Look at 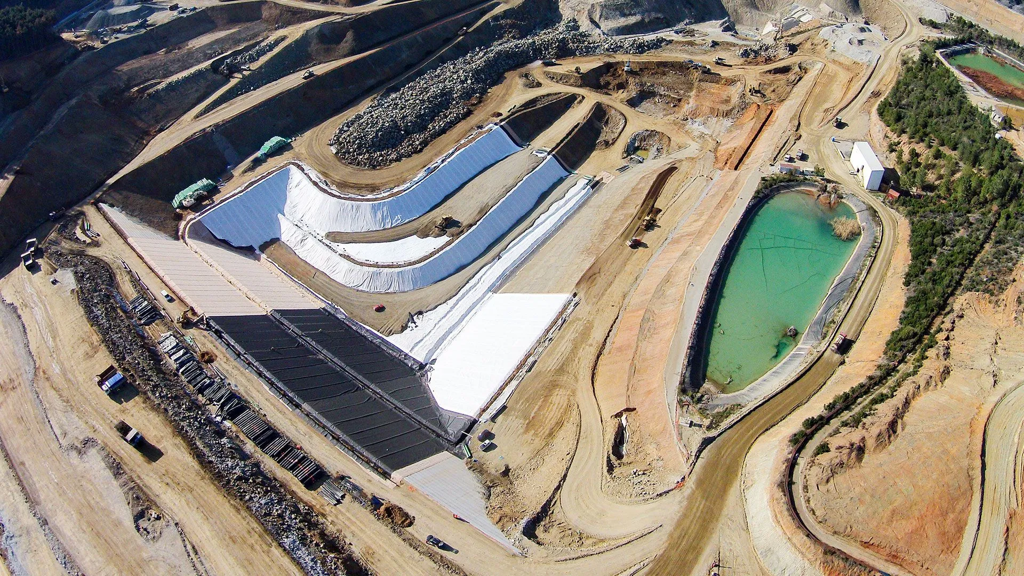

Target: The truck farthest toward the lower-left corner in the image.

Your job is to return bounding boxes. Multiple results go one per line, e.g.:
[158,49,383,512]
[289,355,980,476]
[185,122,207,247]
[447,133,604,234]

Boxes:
[111,417,143,445]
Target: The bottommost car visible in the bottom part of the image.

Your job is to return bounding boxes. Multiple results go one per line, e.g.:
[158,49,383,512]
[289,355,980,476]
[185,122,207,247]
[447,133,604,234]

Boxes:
[421,531,447,549]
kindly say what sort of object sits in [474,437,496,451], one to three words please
vehicle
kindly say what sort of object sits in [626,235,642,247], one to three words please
vehicle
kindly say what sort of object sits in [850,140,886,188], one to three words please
shed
